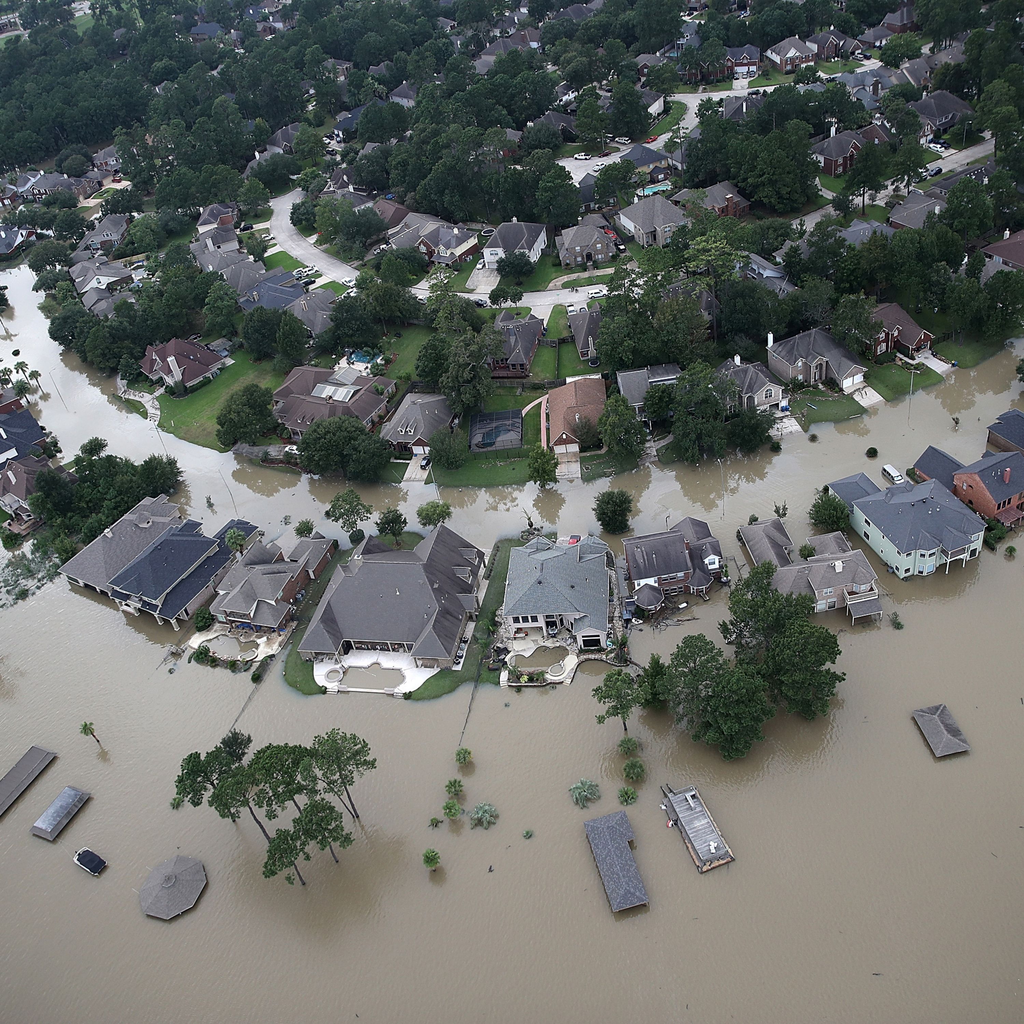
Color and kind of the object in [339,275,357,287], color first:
white vehicle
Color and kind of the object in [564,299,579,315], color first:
white vehicle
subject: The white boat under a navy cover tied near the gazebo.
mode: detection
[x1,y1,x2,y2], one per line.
[74,847,107,872]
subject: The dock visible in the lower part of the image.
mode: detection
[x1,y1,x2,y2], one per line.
[661,780,735,874]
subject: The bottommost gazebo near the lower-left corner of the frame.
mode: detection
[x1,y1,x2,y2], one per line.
[141,859,204,916]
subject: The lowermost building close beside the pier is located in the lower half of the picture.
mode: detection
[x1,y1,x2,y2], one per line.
[585,811,649,912]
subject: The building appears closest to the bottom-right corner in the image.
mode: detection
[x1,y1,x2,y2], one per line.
[914,704,970,758]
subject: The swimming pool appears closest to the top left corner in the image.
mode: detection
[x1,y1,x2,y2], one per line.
[351,349,381,363]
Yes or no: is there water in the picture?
Yes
